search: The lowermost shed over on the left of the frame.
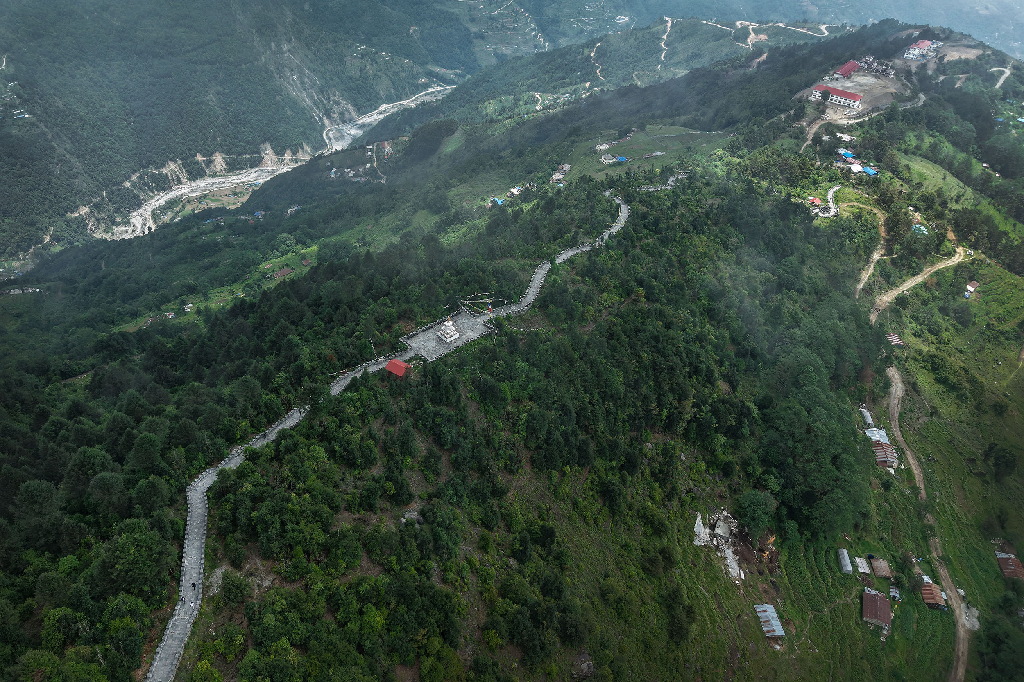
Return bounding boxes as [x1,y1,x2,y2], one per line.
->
[382,357,416,382]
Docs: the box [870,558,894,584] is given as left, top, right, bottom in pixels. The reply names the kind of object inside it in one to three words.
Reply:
shed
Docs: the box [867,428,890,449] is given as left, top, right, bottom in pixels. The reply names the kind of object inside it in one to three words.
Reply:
house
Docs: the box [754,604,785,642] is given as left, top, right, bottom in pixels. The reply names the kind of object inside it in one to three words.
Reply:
house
